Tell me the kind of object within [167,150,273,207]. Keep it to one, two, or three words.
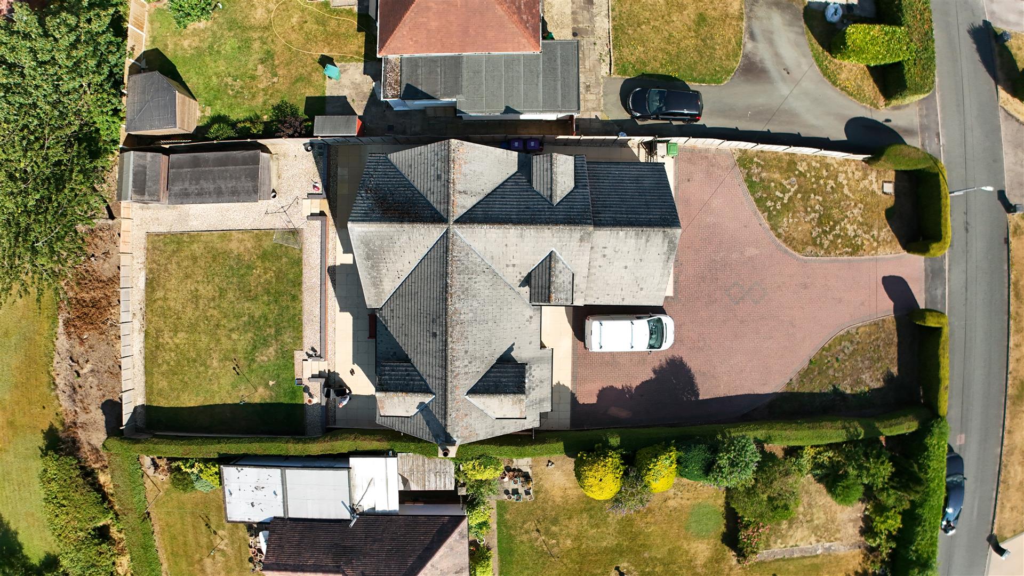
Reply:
shed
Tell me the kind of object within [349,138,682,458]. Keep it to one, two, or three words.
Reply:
house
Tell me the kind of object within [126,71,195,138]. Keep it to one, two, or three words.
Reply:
shed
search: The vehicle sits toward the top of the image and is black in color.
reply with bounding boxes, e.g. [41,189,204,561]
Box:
[625,79,704,122]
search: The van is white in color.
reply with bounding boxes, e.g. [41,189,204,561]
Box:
[584,312,675,357]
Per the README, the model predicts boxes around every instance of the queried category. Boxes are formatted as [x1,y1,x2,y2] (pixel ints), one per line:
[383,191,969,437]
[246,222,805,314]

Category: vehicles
[584,312,675,357]
[934,452,977,534]
[625,79,704,122]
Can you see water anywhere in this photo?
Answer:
No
